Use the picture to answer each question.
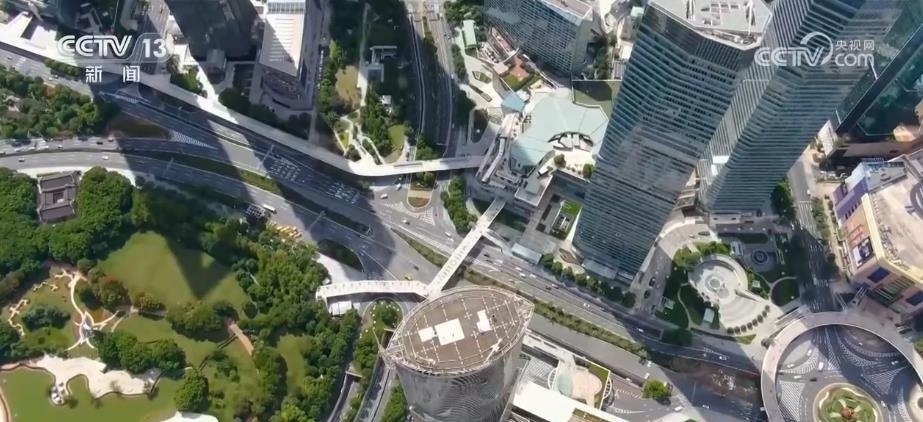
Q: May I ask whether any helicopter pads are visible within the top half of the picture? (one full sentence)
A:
No, looking within the top half of the picture, there is no helicopter pad.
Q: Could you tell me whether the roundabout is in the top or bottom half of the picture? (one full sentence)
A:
You can find the roundabout in the bottom half.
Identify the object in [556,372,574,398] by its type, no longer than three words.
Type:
swimming pool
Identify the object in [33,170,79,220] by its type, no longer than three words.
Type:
house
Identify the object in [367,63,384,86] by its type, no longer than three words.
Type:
building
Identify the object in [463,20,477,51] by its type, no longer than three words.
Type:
building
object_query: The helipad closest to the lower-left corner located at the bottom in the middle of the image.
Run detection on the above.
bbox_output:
[419,325,437,342]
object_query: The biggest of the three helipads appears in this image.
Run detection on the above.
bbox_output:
[440,318,463,344]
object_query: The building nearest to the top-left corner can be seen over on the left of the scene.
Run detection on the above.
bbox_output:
[33,0,71,31]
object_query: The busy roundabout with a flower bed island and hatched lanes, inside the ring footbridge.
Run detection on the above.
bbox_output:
[750,313,923,422]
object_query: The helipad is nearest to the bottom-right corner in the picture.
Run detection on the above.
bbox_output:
[477,309,492,331]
